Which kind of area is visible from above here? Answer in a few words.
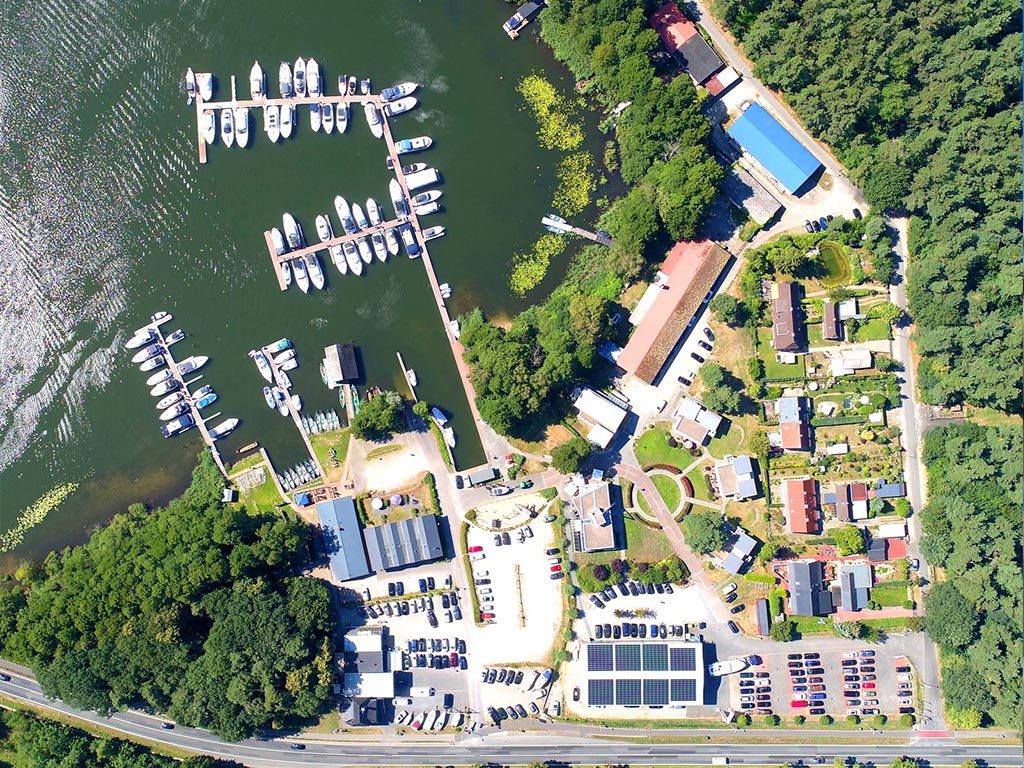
port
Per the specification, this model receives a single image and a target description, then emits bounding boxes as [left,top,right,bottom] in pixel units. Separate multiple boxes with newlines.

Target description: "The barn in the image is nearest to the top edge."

[649,1,697,55]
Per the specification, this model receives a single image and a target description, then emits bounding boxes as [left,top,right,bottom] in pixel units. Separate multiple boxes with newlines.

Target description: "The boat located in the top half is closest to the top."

[503,0,549,33]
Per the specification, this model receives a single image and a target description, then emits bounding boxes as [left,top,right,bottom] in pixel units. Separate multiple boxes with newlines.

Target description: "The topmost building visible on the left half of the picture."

[323,344,359,388]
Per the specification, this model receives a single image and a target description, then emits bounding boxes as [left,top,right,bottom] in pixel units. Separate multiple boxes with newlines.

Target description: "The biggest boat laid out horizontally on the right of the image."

[710,659,750,677]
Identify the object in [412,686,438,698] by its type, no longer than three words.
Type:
vehicle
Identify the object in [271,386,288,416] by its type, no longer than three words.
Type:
boat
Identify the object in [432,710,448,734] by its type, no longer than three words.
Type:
boat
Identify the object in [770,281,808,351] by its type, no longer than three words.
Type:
house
